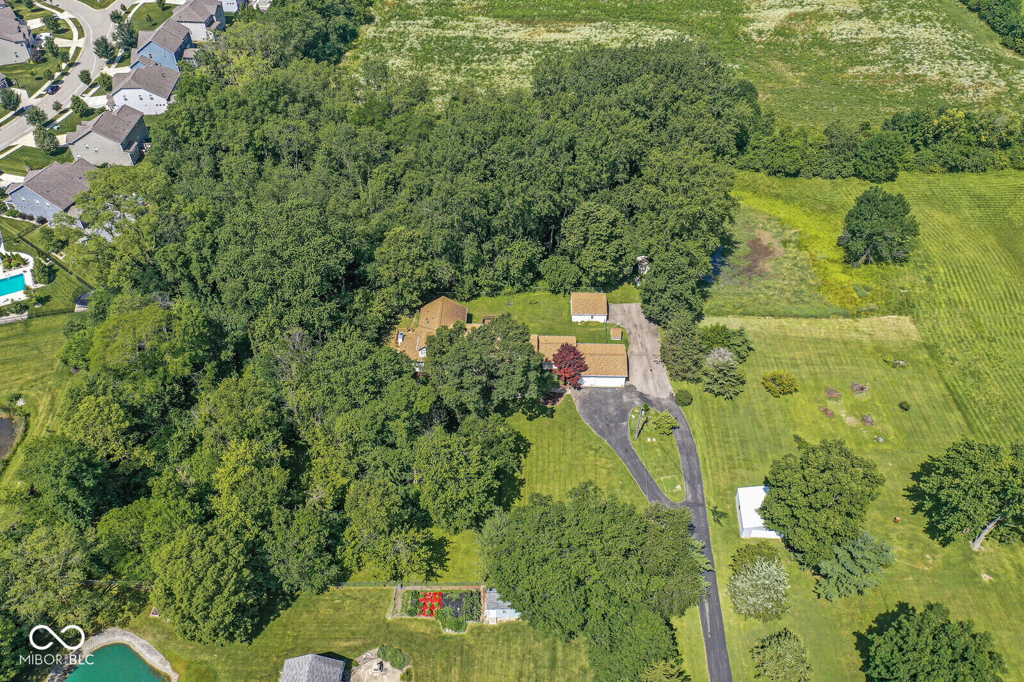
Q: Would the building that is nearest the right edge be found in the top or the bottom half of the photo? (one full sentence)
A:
You can find the building that is nearest the right edge in the bottom half.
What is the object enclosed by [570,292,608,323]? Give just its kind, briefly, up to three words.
building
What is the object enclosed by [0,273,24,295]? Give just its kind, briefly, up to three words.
swimming pool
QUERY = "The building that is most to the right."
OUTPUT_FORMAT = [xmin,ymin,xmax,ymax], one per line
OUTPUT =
[728,484,786,538]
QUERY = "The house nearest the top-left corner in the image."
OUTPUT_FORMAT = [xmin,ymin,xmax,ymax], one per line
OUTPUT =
[0,2,44,66]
